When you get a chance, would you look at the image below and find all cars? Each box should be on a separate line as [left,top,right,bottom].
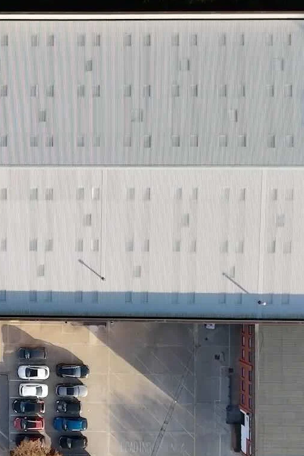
[17,365,50,381]
[12,400,45,415]
[18,382,48,398]
[55,383,87,399]
[57,363,88,379]
[13,417,44,430]
[55,399,83,414]
[18,346,48,362]
[54,416,87,431]
[58,435,88,449]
